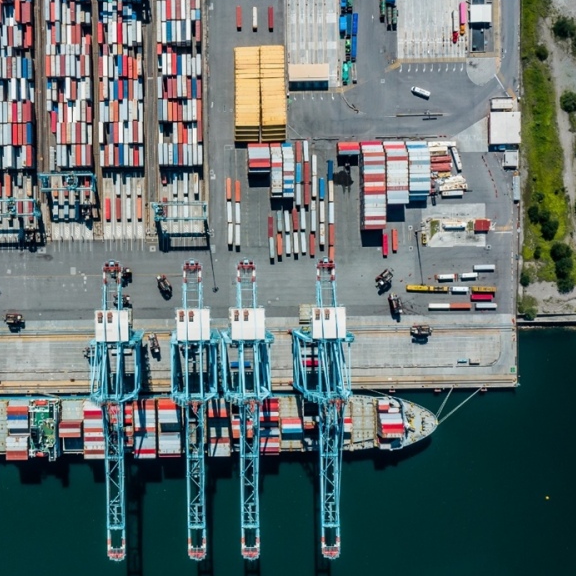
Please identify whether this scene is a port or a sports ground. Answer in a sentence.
What you see here is a port.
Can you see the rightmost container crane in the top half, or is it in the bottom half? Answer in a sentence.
Seen from above, the rightmost container crane lies in the bottom half of the view.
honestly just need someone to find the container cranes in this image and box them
[91,262,150,561]
[0,197,43,225]
[40,173,100,201]
[154,200,210,227]
[282,260,354,558]
[217,261,275,559]
[167,261,223,560]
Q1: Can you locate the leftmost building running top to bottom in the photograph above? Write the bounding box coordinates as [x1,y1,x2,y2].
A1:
[471,23,485,53]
